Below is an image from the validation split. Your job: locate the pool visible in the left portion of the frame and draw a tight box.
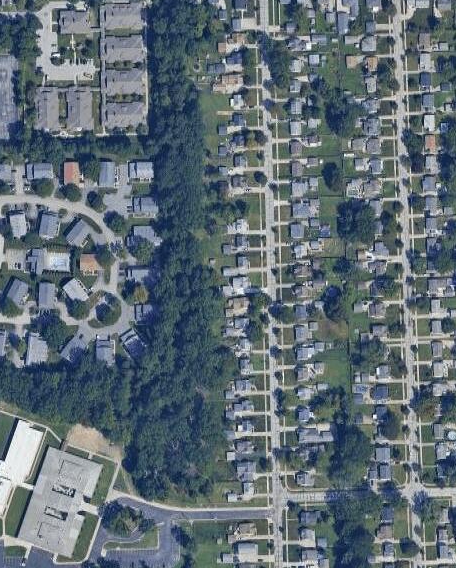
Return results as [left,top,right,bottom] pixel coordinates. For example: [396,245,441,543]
[44,249,69,272]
